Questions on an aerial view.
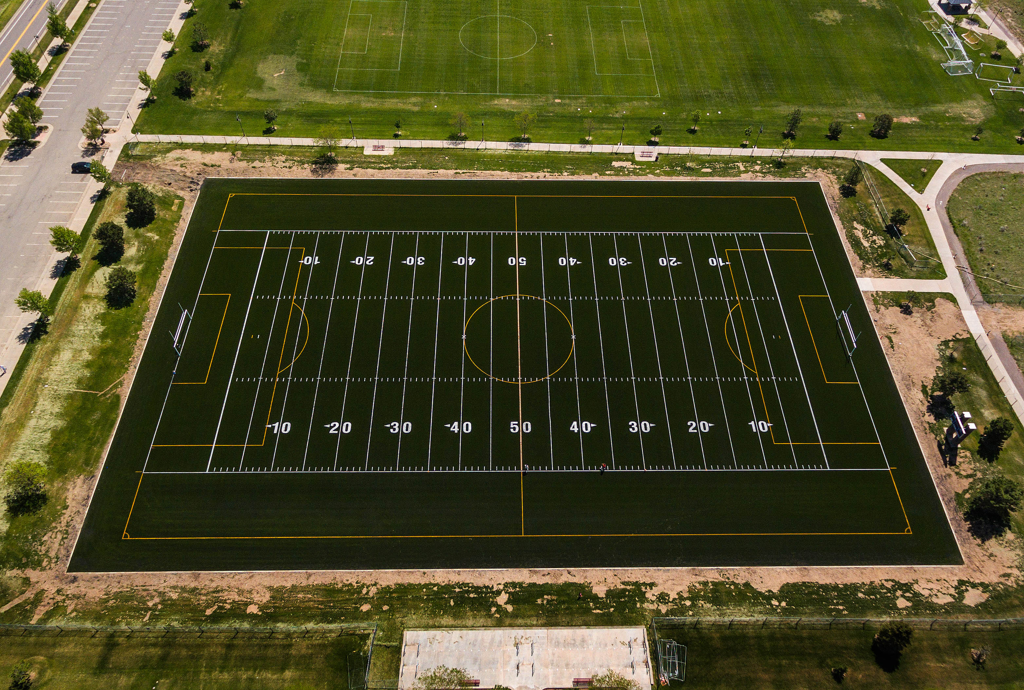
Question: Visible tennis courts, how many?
none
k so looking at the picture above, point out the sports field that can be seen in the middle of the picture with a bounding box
[64,176,967,576]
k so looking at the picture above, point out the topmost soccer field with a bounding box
[332,0,660,97]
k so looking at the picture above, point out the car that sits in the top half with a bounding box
[69,160,89,172]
